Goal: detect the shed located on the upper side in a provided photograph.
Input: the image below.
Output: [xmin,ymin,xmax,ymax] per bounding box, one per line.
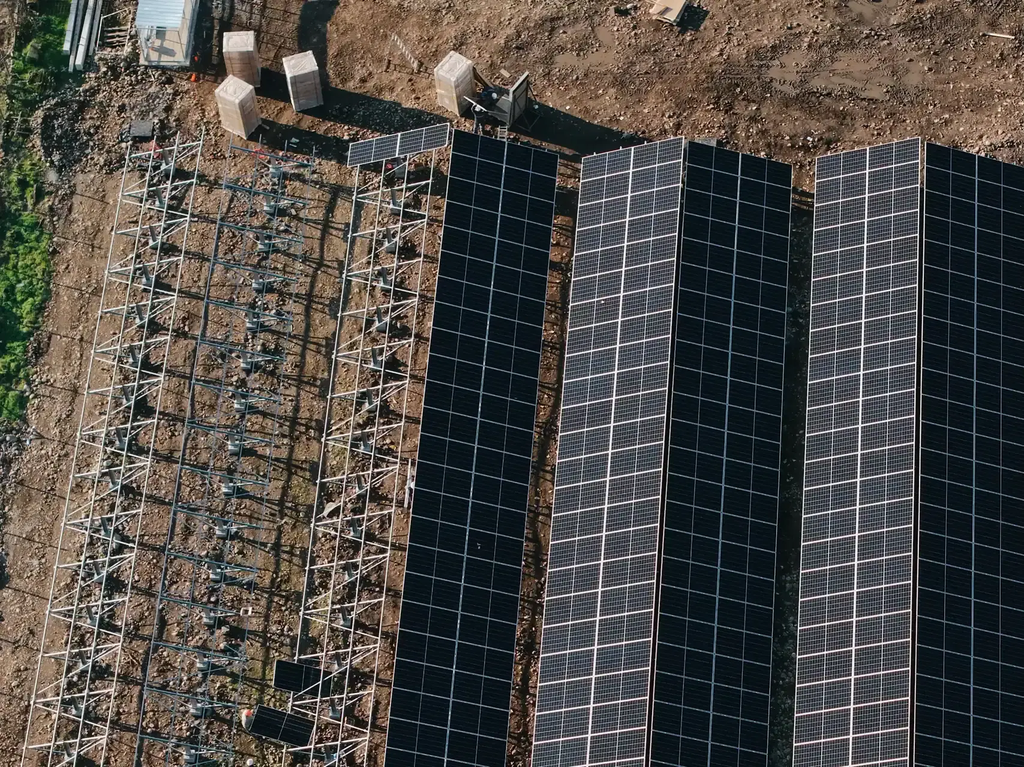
[127,0,208,69]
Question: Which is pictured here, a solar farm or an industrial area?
solar farm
